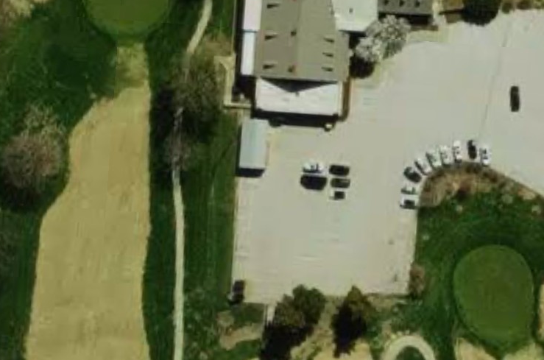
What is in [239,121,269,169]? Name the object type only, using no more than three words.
shed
